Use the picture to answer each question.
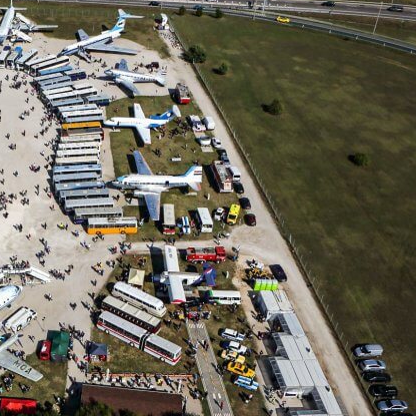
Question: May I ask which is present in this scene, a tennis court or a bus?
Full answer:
This aerial view contains a bus.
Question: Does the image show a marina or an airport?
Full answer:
The picture captures an airport.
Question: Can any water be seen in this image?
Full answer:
No, the picture contains no water.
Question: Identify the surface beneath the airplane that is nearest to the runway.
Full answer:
You can see the airplane that is nearest to the runway positioned on the grass.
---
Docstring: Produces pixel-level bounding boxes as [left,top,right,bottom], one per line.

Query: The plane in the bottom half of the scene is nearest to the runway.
[151,244,219,302]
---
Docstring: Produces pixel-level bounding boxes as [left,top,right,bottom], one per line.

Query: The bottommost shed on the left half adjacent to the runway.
[82,384,183,416]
